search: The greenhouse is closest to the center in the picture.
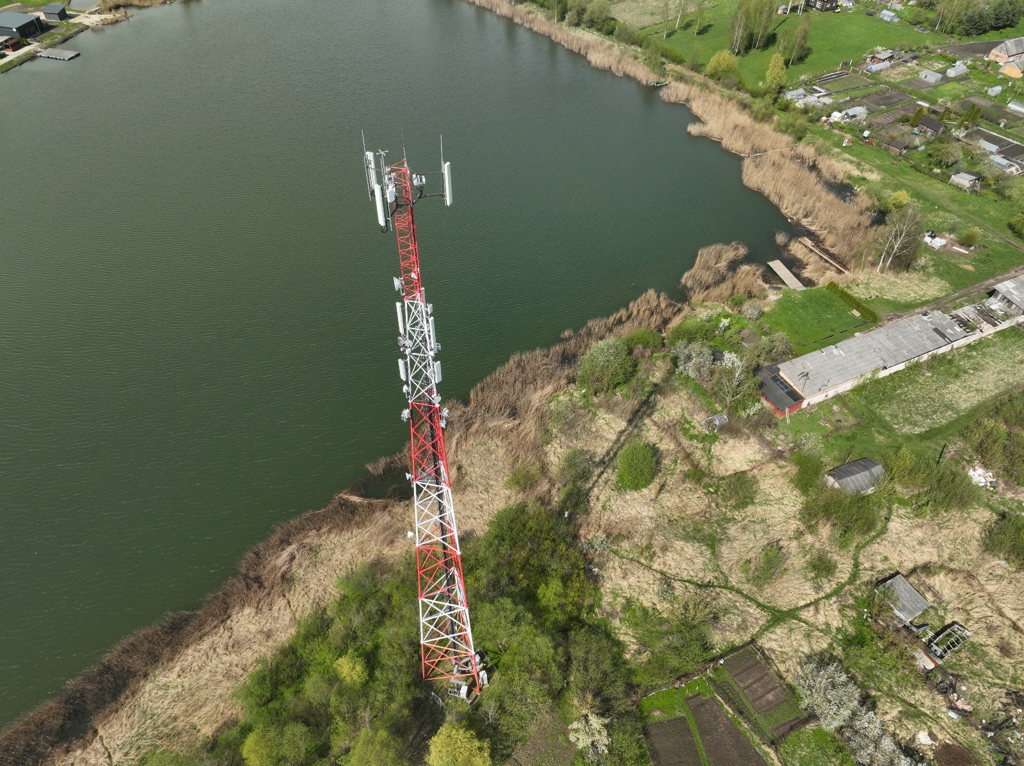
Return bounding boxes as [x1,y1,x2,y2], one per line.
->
[701,410,729,430]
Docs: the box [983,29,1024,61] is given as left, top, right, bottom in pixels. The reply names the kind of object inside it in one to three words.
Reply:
house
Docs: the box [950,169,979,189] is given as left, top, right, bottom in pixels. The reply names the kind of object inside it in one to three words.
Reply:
shed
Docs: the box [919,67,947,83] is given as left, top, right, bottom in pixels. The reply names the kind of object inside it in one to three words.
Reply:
greenhouse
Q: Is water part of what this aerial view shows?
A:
Yes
